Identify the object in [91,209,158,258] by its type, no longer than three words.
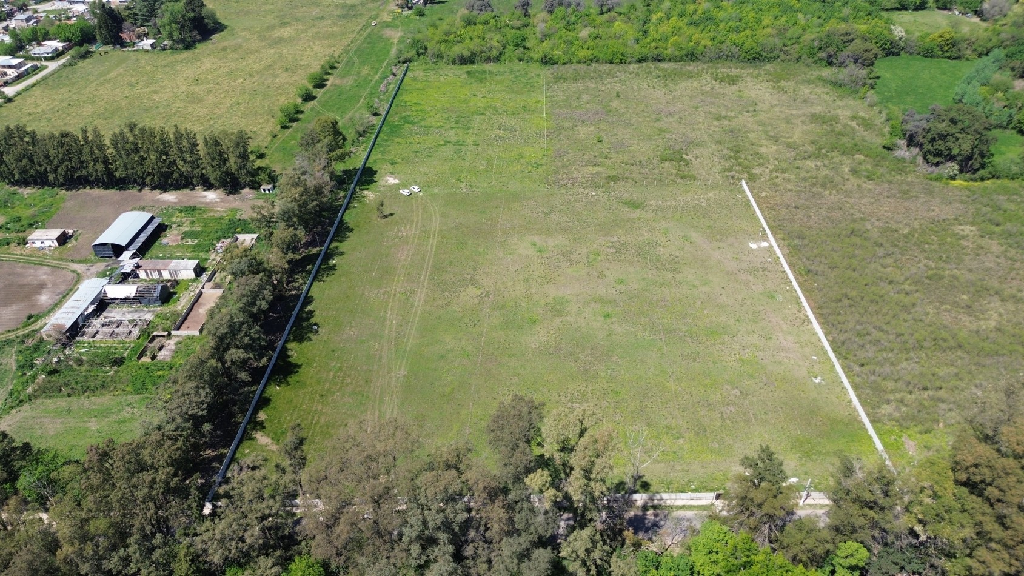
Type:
hangar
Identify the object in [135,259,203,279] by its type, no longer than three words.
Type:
shed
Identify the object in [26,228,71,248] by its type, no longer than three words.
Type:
house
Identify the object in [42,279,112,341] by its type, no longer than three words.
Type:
barn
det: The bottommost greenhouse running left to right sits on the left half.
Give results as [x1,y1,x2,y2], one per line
[104,285,167,306]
